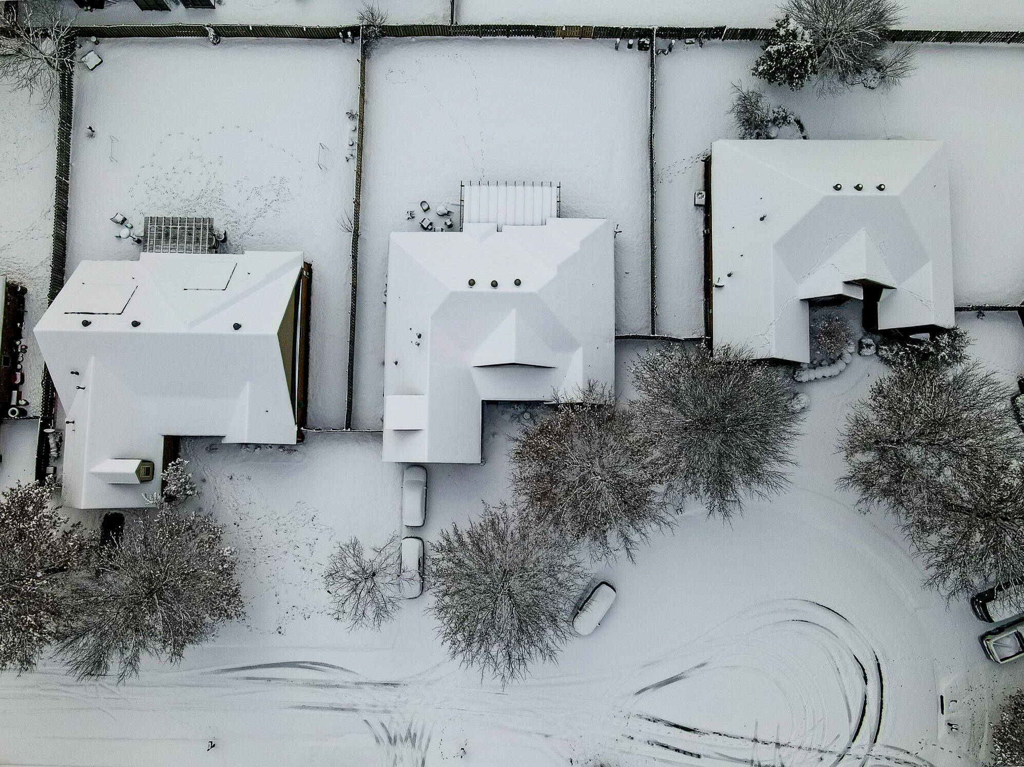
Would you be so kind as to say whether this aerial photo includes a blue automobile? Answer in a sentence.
No, there is no blue automobile in the image.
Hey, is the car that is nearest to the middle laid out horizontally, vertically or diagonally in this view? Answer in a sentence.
The car that is nearest to the middle has been laid out vertically relative to the frame.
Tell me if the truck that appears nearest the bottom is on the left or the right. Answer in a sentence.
You can find the truck that appears nearest the bottom on the right side of the picture.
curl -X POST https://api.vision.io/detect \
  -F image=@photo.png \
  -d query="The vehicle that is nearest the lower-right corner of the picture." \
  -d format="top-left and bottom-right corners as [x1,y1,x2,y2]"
[980,619,1024,662]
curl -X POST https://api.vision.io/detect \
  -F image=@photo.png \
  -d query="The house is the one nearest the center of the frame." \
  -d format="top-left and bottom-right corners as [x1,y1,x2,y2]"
[383,219,624,464]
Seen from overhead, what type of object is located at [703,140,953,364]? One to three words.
house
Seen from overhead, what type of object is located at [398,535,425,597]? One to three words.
vehicle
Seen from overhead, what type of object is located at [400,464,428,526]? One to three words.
car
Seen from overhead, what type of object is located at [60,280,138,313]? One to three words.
solar panel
